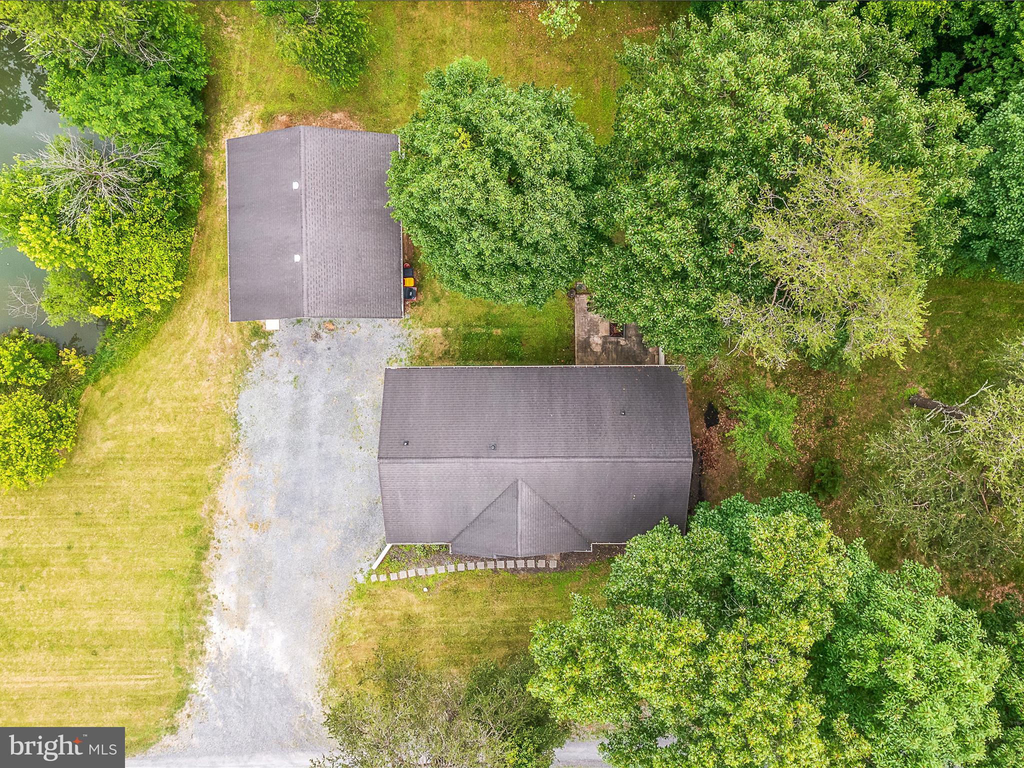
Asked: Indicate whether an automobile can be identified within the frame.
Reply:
No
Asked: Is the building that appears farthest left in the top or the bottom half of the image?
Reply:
top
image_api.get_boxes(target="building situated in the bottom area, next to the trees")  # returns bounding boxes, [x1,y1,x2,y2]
[378,365,694,559]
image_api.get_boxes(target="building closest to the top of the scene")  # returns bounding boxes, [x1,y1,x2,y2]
[223,124,406,322]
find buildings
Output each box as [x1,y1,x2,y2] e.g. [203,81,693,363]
[378,365,694,559]
[223,124,406,322]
